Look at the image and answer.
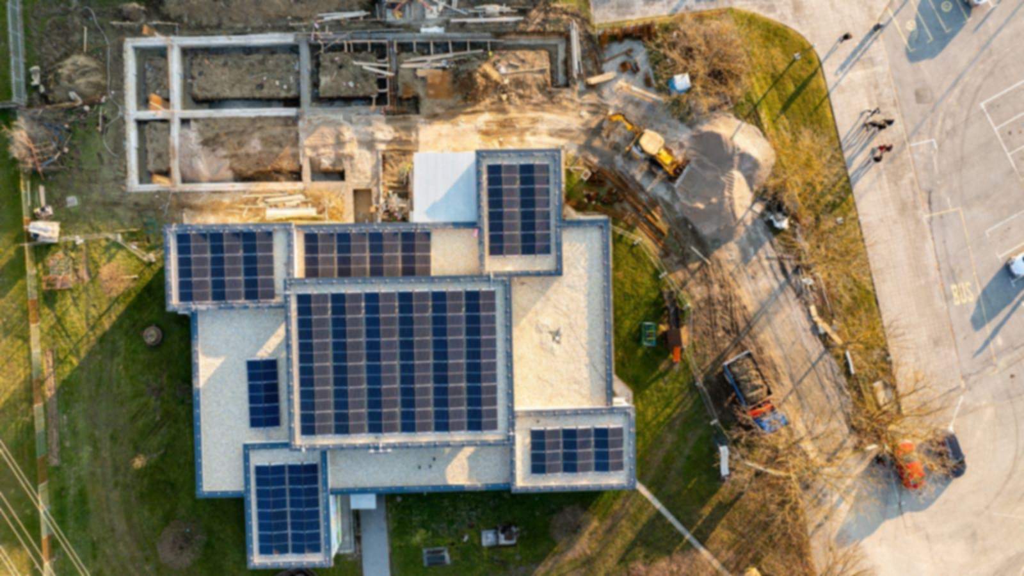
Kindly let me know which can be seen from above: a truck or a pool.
truck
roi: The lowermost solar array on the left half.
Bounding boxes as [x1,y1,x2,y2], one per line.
[256,462,322,556]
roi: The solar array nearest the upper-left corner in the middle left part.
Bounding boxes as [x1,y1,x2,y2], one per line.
[178,230,276,303]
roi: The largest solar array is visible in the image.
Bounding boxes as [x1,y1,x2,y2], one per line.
[298,288,499,437]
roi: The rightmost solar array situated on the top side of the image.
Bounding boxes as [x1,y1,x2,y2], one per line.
[488,162,551,258]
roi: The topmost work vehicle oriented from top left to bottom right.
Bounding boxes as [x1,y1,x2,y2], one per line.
[596,121,683,191]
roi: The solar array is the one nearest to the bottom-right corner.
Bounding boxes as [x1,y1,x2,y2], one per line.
[531,425,623,475]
